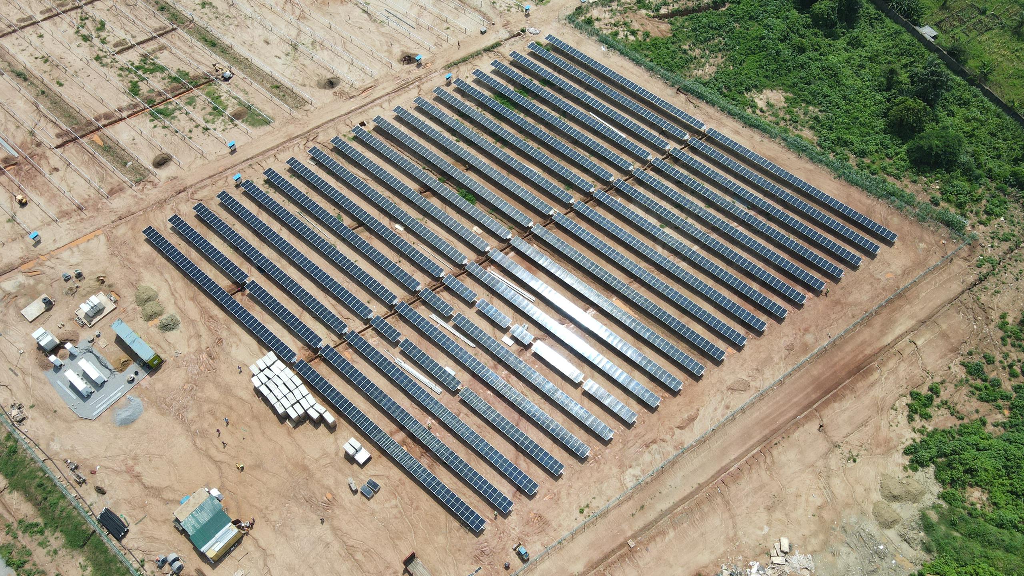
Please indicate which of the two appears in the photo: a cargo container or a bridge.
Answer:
cargo container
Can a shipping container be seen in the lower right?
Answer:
No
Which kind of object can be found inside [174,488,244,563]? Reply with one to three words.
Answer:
shed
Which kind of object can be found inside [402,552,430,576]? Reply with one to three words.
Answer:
vehicle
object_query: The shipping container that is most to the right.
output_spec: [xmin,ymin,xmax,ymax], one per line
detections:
[111,319,162,367]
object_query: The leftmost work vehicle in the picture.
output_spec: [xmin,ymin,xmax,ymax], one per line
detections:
[13,194,30,208]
